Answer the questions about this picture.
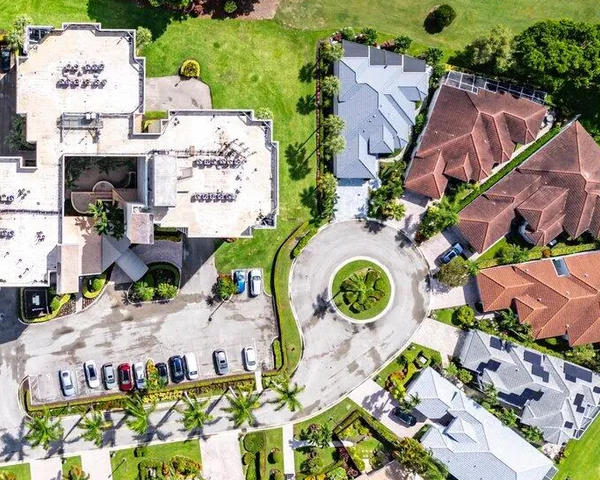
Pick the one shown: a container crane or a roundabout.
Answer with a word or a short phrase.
roundabout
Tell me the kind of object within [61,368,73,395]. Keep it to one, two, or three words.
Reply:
vehicle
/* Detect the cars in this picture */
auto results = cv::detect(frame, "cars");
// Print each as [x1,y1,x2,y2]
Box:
[61,368,73,395]
[234,269,245,294]
[133,360,147,387]
[83,359,98,387]
[248,268,260,296]
[214,347,229,375]
[170,353,185,381]
[103,361,115,389]
[0,45,11,72]
[118,362,132,390]
[438,241,465,262]
[155,357,169,384]
[243,344,257,371]
[388,404,416,425]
